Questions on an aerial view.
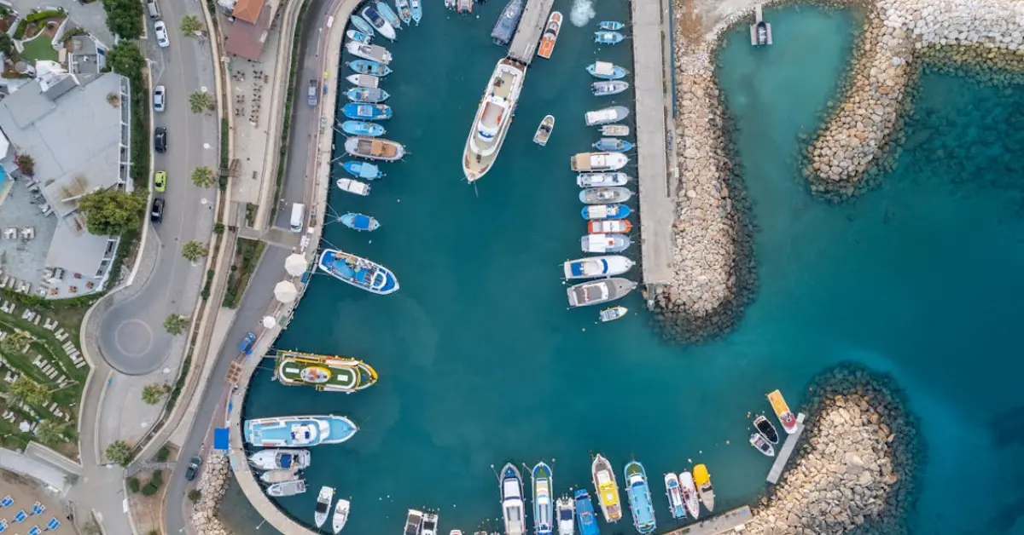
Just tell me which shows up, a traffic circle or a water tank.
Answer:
traffic circle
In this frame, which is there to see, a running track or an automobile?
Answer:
automobile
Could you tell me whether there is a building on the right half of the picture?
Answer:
No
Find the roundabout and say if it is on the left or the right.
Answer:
left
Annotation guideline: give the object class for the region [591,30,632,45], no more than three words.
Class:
boat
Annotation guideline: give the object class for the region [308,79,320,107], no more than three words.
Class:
vehicle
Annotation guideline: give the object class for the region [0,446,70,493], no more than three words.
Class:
building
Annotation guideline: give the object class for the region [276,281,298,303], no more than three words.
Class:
umbrella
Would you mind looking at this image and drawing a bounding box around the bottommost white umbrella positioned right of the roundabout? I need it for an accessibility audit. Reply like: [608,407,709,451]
[264,315,278,329]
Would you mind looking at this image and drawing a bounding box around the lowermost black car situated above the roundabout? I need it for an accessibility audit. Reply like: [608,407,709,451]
[151,198,168,224]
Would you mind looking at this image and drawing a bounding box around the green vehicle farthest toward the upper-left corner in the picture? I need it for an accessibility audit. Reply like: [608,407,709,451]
[155,171,169,192]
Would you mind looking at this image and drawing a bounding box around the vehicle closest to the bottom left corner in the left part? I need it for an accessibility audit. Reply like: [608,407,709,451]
[184,454,204,482]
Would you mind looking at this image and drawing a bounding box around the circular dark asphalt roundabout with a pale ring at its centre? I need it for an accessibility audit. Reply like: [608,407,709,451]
[98,303,171,375]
